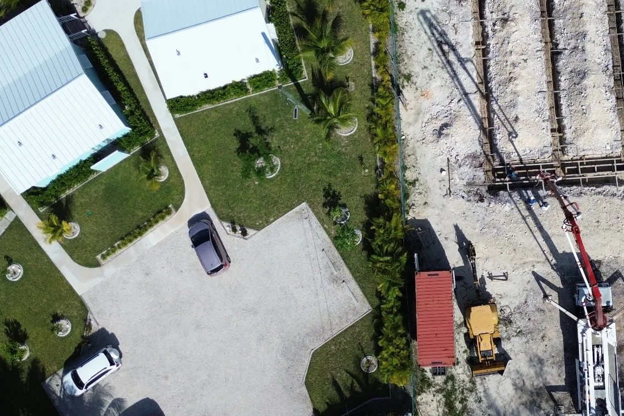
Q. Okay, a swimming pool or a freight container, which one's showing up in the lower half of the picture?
freight container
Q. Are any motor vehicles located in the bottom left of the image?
Yes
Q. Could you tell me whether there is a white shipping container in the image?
No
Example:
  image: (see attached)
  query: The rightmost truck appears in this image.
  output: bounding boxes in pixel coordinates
[531,172,624,416]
